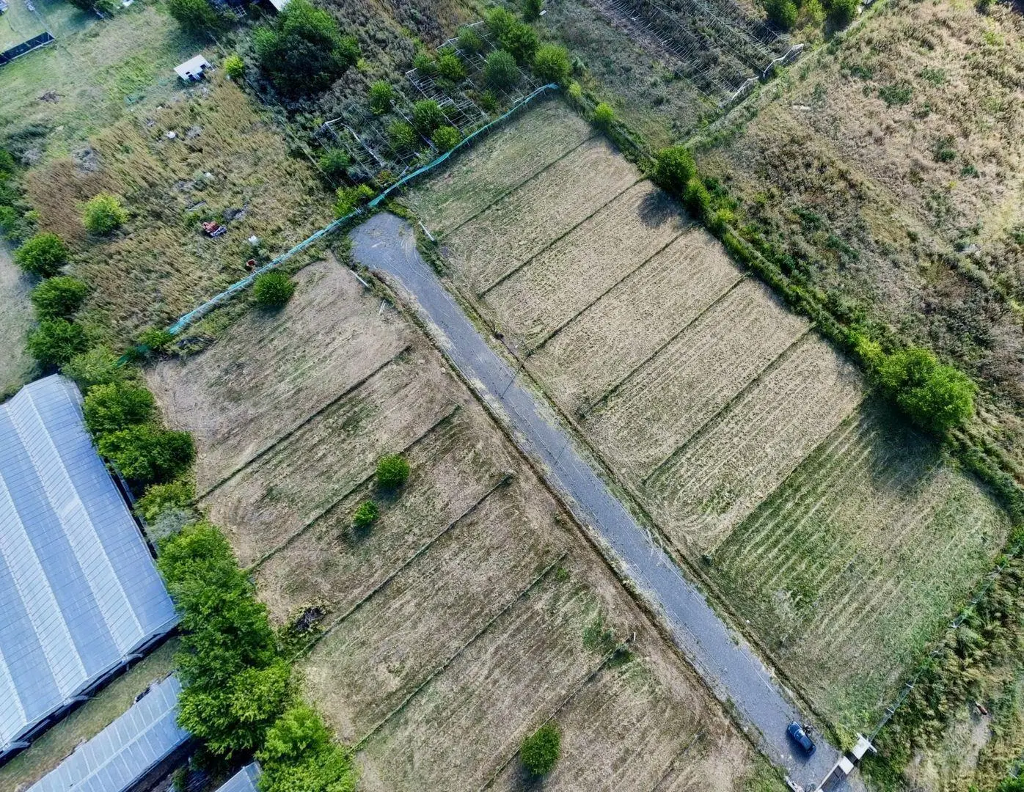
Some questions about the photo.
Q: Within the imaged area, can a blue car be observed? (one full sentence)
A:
Yes, a blue car can be made out from above.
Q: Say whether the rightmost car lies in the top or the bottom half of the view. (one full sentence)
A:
The rightmost car sits in the bottom half of the picture.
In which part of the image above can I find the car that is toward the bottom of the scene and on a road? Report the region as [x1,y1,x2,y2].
[784,718,819,759]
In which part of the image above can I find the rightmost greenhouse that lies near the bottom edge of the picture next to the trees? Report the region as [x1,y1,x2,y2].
[214,762,267,792]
